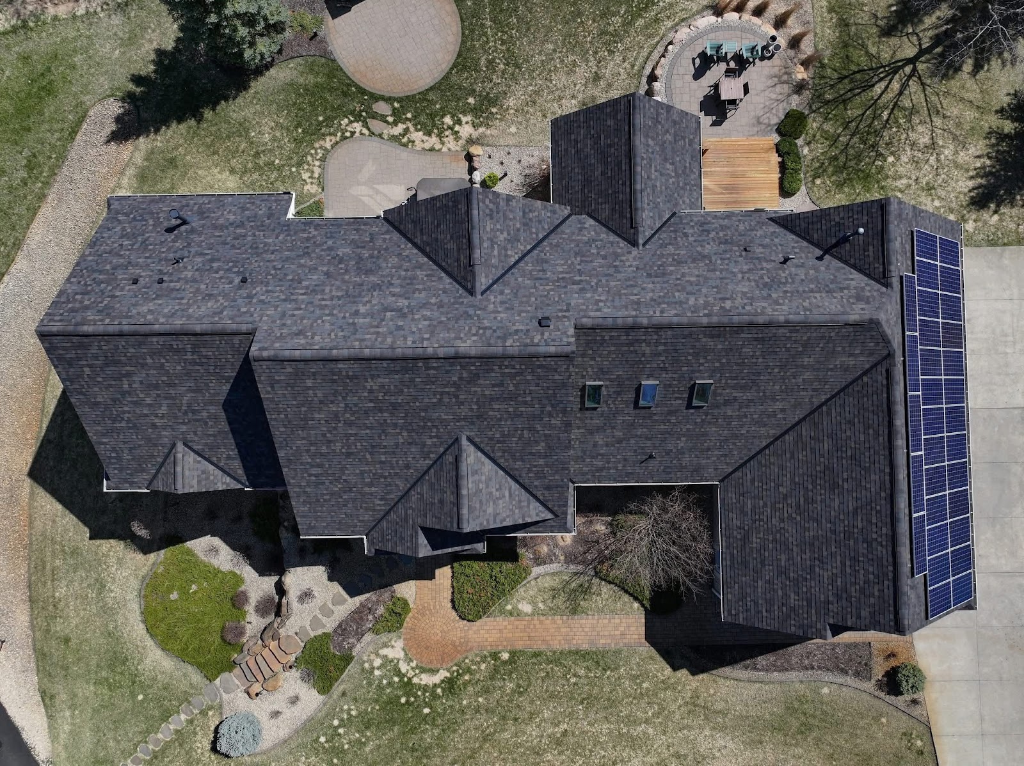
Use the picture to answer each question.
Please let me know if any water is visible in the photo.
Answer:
No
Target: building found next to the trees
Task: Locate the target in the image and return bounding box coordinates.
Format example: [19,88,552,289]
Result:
[37,92,979,639]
